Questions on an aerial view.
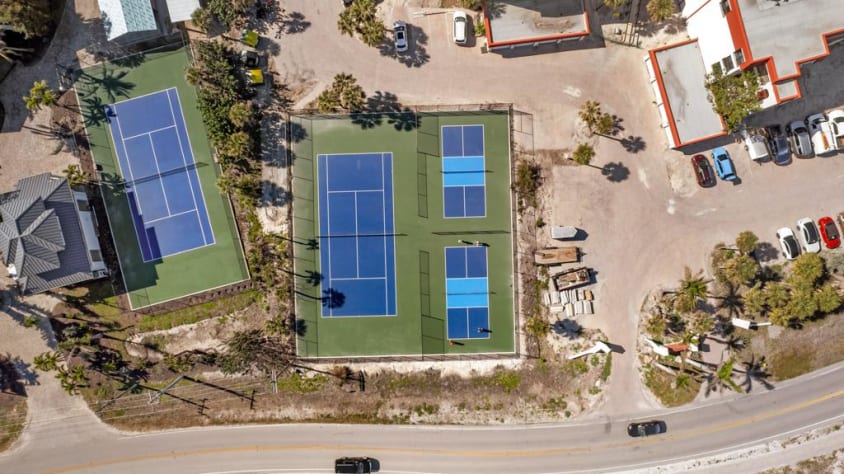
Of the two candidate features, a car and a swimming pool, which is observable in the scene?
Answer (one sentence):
The one in the frame is a car.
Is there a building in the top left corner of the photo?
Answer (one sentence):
Yes, a building appears in the top left corner of the photo.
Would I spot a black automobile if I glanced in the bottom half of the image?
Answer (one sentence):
Yes, you'll find a black automobile in the bottom half of the image.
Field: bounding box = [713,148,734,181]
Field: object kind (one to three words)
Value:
car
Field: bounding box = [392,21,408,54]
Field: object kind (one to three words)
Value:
car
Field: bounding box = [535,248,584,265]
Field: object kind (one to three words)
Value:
trailer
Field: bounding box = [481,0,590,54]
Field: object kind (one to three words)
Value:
building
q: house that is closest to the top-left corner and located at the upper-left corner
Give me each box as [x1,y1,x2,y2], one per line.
[98,0,168,48]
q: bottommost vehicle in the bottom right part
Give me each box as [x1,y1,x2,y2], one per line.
[627,420,665,438]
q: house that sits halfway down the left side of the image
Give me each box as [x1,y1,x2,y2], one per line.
[0,176,111,297]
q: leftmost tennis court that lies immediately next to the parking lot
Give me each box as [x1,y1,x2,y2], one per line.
[69,45,250,310]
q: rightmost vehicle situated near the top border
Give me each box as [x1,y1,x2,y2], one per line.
[452,12,468,45]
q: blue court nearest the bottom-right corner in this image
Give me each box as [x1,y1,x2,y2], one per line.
[444,246,491,339]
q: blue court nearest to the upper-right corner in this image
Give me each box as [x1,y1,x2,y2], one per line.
[440,124,488,218]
